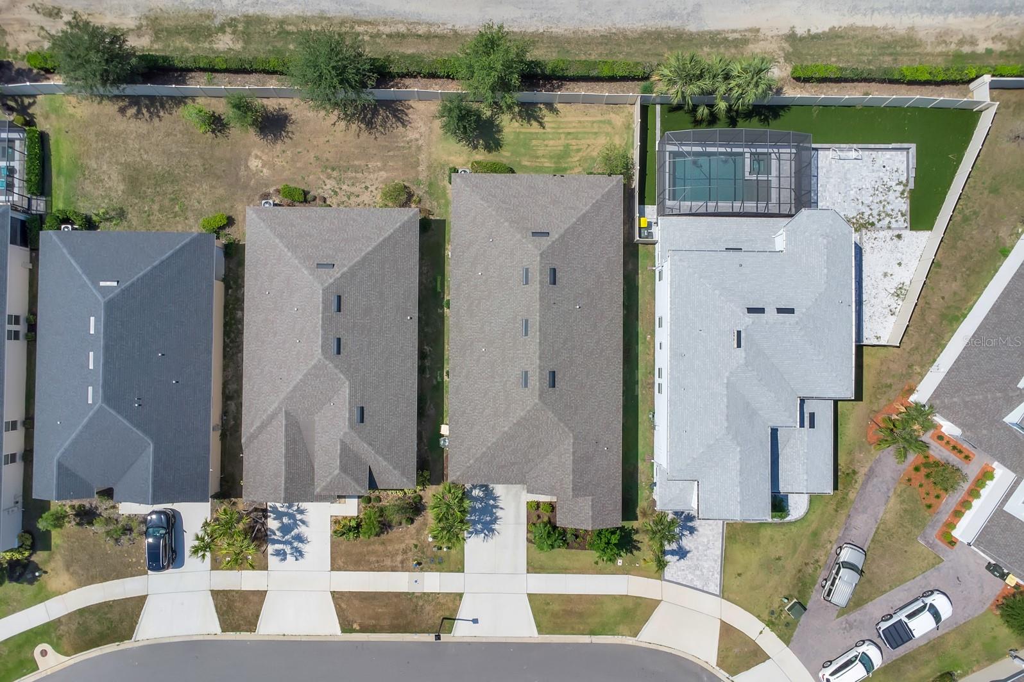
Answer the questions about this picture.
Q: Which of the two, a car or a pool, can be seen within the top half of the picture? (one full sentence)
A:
Looking within the top half of the picture, you will find a pool.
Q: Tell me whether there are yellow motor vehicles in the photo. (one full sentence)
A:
No, there is no yellow motor vehicle in the image.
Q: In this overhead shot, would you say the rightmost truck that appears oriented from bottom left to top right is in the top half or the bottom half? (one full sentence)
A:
The rightmost truck that appears oriented from bottom left to top right is in the bottom half of the image.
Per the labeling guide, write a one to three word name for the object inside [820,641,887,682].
car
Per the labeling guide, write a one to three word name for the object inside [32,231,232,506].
house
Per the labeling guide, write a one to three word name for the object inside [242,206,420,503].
house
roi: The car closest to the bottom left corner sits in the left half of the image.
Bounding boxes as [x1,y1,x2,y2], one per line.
[140,508,178,577]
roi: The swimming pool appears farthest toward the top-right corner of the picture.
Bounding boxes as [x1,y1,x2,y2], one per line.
[668,144,776,207]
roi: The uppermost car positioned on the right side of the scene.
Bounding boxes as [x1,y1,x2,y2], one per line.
[823,541,870,610]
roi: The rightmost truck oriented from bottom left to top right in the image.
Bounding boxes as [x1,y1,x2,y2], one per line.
[879,590,959,652]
